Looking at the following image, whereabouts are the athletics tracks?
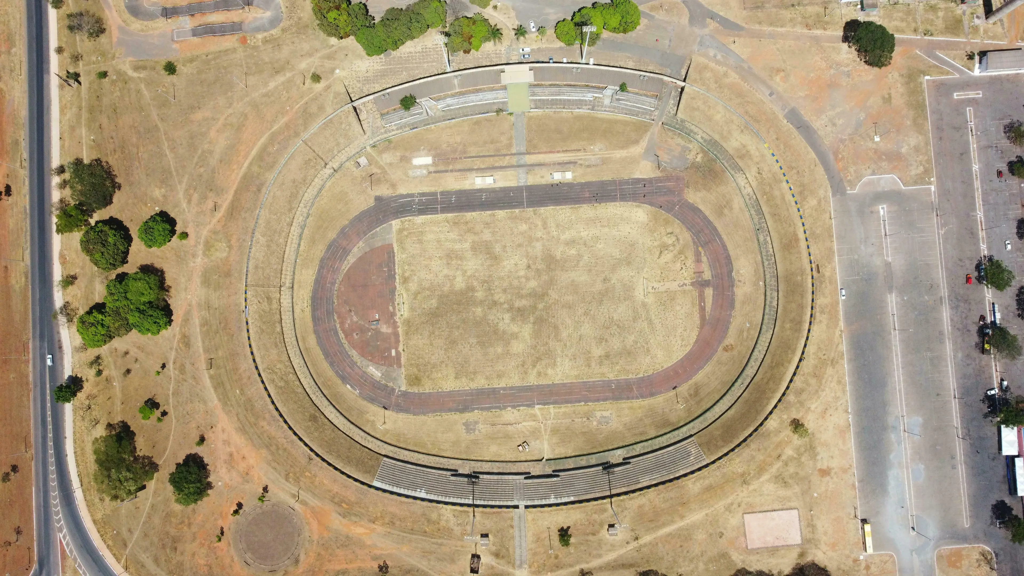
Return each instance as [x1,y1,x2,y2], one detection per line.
[311,175,735,415]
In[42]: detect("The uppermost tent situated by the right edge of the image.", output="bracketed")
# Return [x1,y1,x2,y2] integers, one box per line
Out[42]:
[996,424,1019,455]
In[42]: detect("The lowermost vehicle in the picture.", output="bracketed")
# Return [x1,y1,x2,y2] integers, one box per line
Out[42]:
[861,522,873,553]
